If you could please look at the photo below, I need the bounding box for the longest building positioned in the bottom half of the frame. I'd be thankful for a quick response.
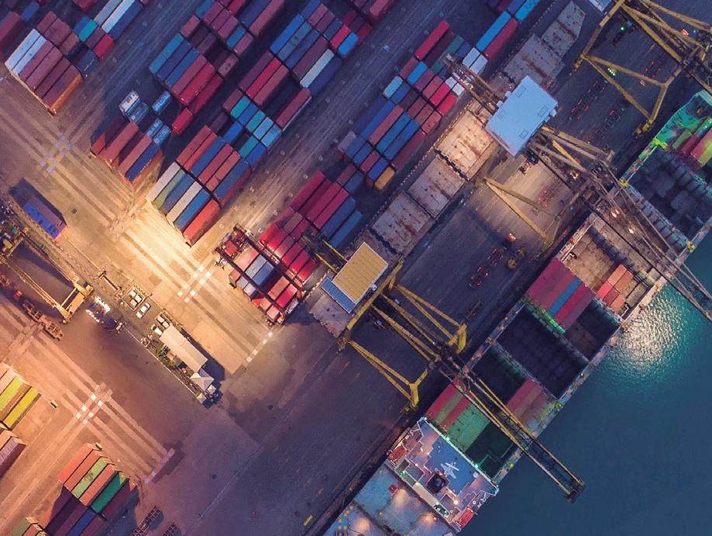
[159,325,207,373]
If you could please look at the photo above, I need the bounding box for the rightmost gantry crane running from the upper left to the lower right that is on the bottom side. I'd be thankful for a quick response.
[296,227,587,504]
